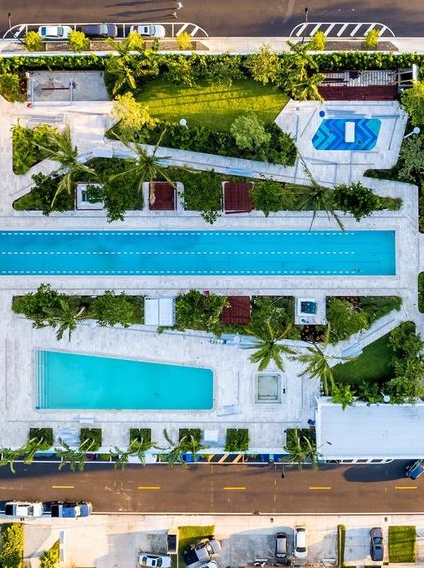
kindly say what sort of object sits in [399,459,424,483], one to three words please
truck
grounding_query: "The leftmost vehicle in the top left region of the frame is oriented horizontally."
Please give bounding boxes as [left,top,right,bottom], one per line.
[38,24,73,40]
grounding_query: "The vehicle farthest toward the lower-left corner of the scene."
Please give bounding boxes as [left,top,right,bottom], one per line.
[4,500,44,518]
